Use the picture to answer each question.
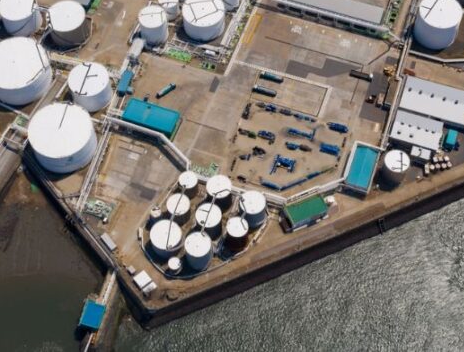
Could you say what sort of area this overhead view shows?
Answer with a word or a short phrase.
industrial area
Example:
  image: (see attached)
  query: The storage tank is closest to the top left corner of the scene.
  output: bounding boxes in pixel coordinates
[0,0,50,37]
